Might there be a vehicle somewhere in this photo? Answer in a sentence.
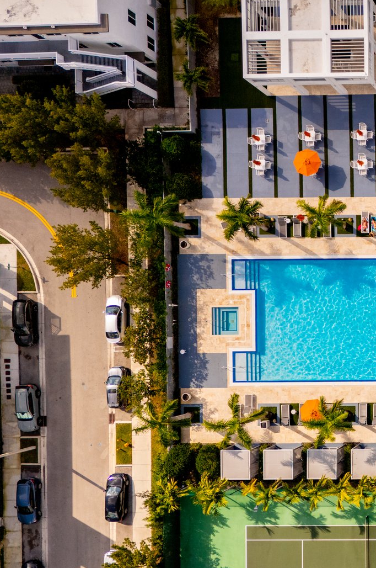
Yes, there's a vehicle down there.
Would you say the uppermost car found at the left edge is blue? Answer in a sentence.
No, the uppermost car found at the left edge is actually black.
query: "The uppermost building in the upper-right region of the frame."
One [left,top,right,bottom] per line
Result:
[242,0,376,95]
